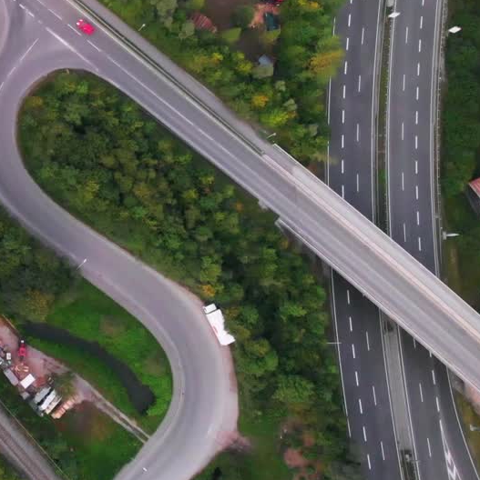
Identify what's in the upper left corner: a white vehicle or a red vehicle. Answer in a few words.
red vehicle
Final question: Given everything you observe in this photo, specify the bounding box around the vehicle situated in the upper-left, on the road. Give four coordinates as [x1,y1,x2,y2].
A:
[77,18,96,35]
